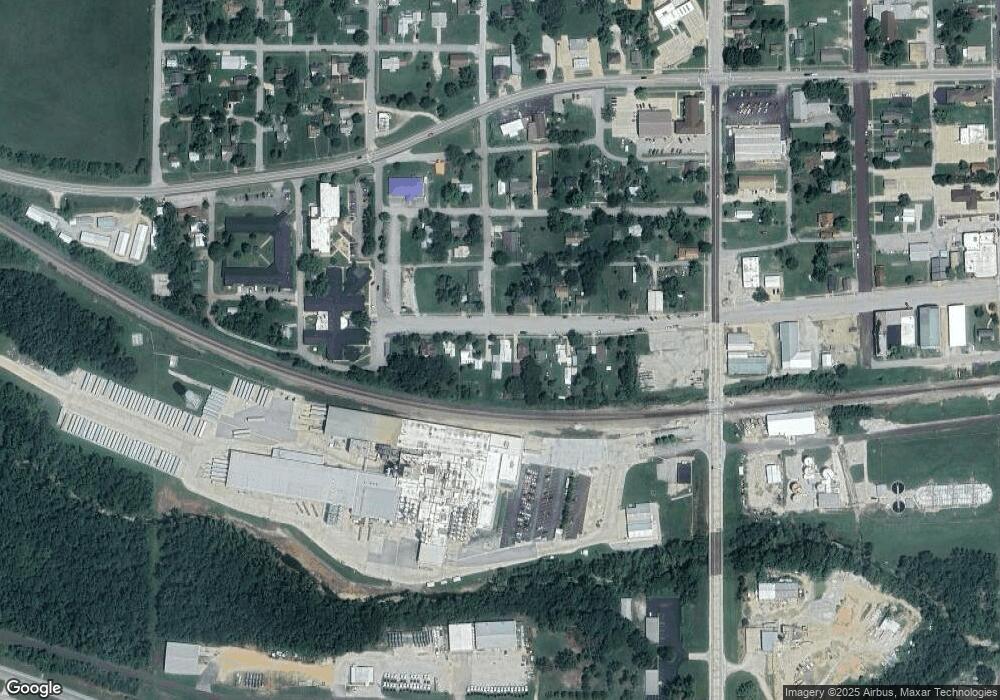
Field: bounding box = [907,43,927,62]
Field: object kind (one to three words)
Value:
house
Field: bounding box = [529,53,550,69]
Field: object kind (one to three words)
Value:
house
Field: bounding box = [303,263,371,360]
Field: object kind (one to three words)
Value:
building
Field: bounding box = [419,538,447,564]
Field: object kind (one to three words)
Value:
building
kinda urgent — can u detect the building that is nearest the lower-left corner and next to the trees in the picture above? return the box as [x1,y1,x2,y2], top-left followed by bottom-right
[165,642,199,675]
